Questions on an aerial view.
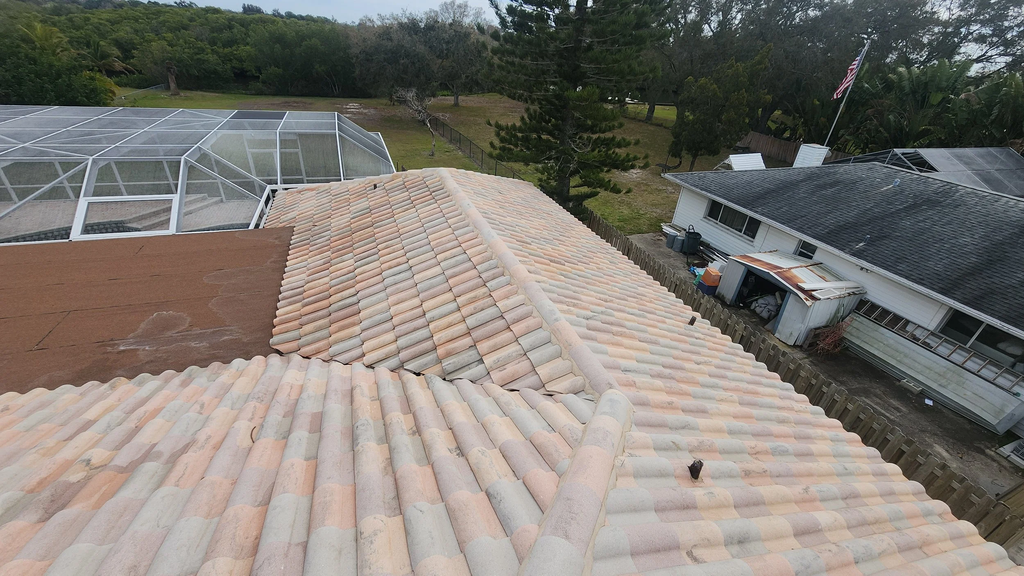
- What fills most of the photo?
buildings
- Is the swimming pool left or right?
left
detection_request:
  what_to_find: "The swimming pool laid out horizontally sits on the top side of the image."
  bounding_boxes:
[0,202,239,242]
